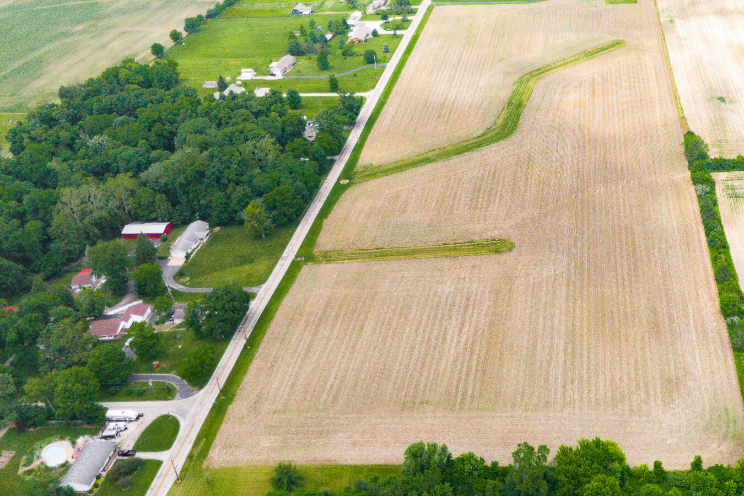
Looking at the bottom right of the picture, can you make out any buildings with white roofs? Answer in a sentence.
No, the scene shows no building with a white roof at the bottom right of the picture.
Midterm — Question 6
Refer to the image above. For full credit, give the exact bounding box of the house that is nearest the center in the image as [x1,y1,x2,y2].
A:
[302,122,320,147]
